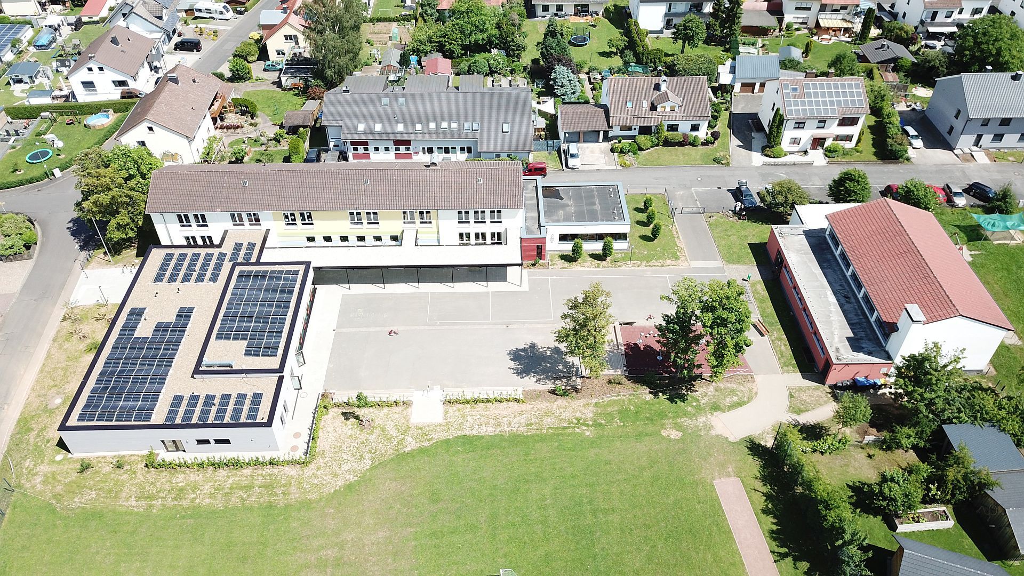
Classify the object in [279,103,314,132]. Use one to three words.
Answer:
shed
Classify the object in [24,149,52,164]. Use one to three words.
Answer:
trampoline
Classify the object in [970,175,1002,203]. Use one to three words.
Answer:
vehicle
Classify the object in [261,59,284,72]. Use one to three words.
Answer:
vehicle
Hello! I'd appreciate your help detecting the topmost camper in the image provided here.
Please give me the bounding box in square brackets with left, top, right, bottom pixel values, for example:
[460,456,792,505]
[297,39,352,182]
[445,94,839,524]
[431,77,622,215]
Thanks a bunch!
[197,3,232,21]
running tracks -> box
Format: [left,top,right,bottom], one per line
[714,478,780,576]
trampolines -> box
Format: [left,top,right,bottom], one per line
[24,149,52,164]
[571,27,591,47]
